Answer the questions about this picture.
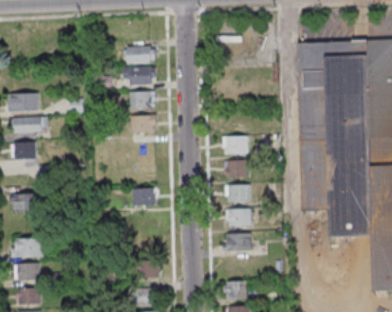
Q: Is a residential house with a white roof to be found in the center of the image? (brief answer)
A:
Yes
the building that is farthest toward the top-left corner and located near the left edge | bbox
[8,93,41,112]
